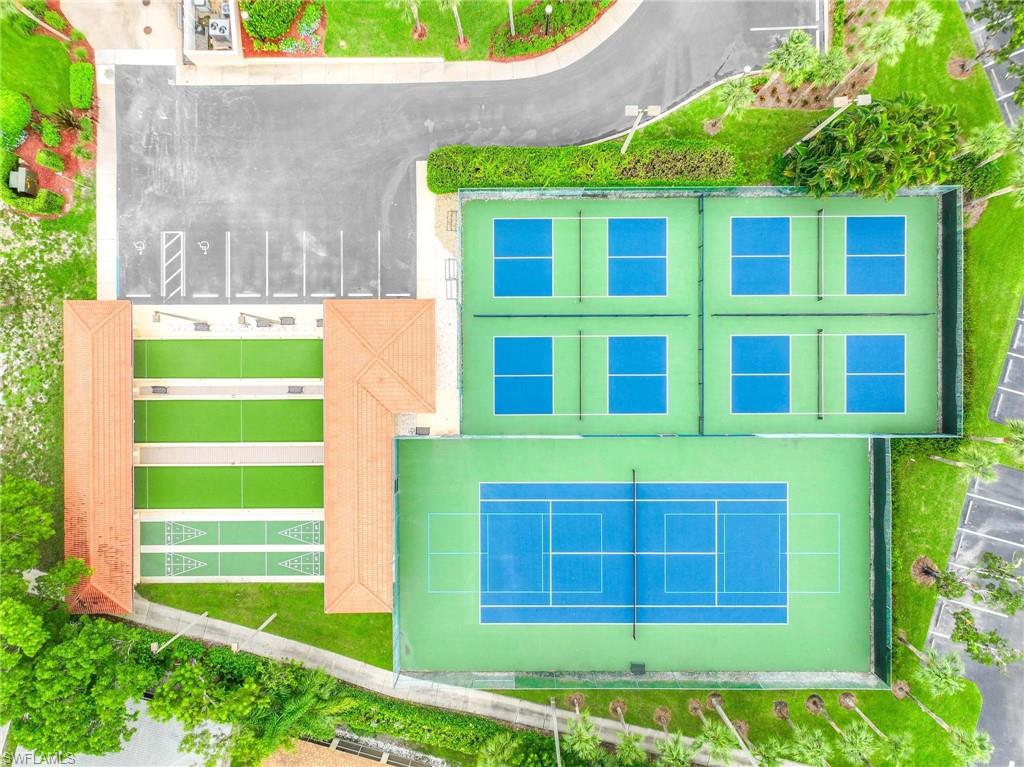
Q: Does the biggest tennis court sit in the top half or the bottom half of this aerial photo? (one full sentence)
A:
You can find the biggest tennis court in the bottom half.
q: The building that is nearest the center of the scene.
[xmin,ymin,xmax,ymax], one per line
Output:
[323,299,436,614]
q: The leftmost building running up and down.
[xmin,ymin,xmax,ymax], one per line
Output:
[63,300,135,615]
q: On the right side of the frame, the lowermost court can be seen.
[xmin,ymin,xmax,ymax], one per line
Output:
[399,437,869,671]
